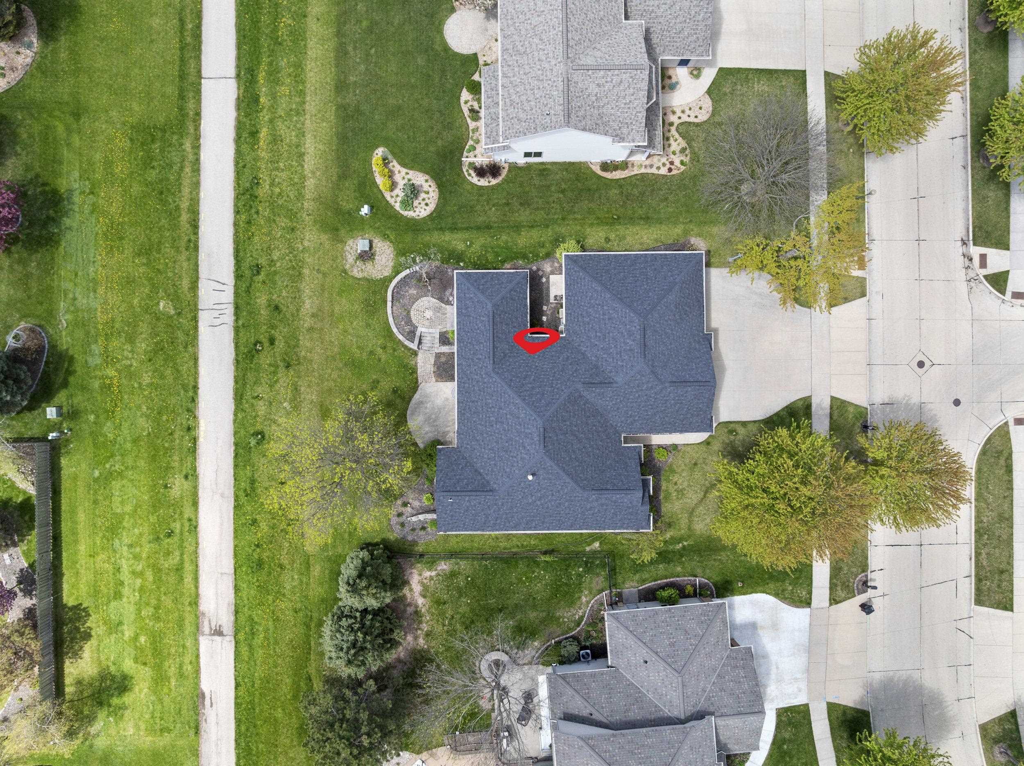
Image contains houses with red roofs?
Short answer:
No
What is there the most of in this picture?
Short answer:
grass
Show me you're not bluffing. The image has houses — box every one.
[537,570,766,766]
[462,0,711,173]
[435,250,718,533]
